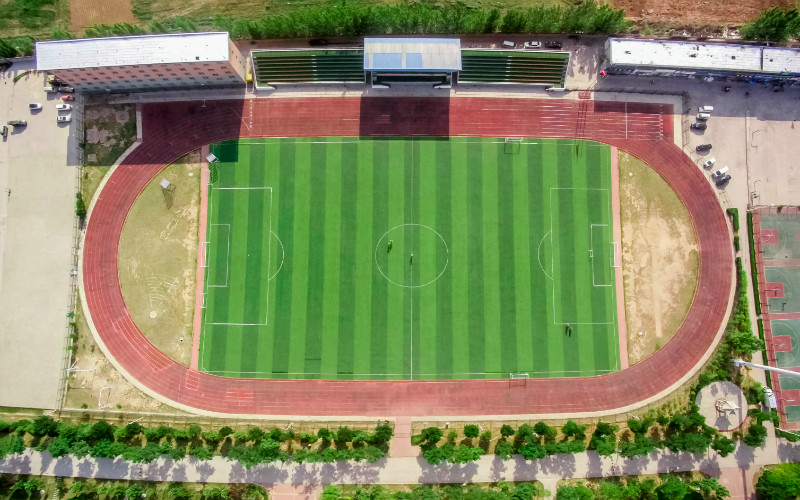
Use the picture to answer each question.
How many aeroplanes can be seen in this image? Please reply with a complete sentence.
I count no aeroplanes.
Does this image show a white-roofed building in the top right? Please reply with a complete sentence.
Yes, looking in the top right, one can make out a white-roofed building.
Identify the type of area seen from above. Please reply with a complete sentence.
The picture captures a sports ground.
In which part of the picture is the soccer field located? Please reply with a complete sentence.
You can find the soccer field in the center area of the picture.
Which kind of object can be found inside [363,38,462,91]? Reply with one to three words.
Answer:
building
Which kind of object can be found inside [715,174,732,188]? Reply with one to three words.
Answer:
vehicle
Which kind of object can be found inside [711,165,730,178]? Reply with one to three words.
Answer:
vehicle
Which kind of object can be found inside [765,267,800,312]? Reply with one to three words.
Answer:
basketball court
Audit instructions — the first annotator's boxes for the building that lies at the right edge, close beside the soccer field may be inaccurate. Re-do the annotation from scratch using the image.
[604,36,762,81]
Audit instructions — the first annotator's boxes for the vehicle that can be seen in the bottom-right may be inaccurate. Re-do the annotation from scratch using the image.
[762,384,782,410]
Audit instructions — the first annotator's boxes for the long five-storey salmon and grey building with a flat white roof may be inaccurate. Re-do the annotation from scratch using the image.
[35,31,246,90]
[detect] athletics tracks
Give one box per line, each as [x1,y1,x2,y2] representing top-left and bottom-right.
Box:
[77,96,738,422]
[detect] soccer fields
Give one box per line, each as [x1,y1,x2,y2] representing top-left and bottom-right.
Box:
[197,138,623,380]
